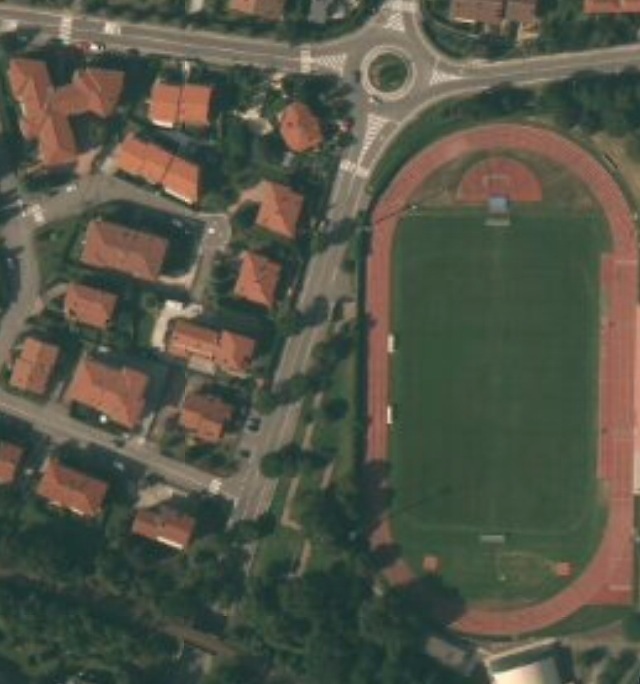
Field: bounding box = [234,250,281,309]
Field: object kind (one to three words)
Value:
house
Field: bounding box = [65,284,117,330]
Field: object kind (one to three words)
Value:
house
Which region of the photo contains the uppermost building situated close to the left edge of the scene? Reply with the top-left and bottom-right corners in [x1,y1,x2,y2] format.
[10,59,124,166]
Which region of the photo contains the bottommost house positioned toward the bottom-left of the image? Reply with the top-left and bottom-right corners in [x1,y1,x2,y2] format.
[132,507,196,554]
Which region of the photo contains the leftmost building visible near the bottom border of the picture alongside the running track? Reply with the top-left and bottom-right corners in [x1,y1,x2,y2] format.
[420,637,467,672]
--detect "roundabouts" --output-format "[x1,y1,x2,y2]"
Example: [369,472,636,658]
[302,0,490,169]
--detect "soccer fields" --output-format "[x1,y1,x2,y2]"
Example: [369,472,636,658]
[387,146,615,612]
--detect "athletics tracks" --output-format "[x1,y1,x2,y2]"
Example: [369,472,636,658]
[365,124,637,634]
